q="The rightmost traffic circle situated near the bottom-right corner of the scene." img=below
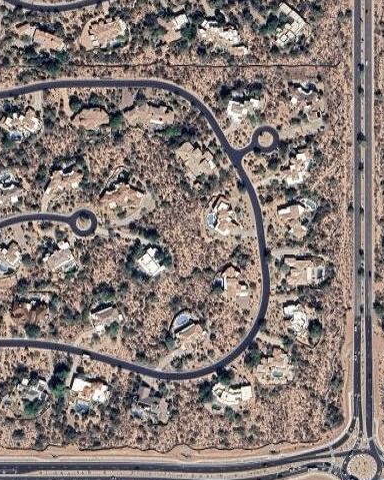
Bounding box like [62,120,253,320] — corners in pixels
[332,417,384,480]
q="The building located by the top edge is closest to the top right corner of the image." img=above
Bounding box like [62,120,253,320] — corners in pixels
[275,0,310,47]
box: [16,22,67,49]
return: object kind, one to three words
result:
house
